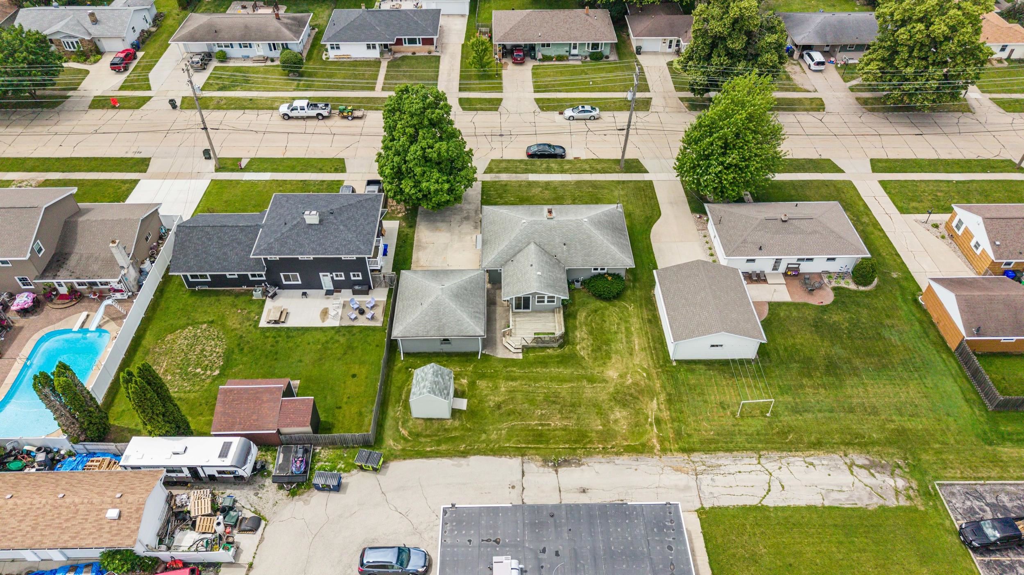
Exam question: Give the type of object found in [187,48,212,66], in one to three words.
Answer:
car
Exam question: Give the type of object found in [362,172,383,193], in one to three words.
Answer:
truck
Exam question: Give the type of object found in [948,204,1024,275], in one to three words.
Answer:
house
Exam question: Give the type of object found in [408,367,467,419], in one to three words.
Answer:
shed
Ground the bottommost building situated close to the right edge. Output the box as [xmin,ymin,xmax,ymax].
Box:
[920,277,1024,353]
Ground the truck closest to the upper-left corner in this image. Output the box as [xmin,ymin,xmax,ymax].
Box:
[108,46,137,67]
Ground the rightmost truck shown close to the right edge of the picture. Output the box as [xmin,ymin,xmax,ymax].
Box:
[958,515,1024,558]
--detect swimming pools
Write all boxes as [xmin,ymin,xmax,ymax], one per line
[0,328,110,438]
